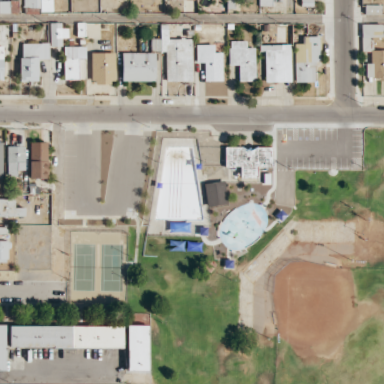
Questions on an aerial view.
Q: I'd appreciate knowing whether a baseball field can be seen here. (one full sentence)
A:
Yes, there is a baseball field in the image.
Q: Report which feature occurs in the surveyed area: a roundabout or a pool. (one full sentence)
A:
There is a pool in the scene.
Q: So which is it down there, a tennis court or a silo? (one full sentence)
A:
I can see a tennis court in this picture.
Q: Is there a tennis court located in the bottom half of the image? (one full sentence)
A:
Yes, a tennis court is visible in the bottom half of the image.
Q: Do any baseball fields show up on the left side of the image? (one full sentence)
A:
No, looking on the left side of the image, there is no baseball field.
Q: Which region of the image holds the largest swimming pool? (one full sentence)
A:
Look in the center portion of the view to spot the largest swimming pool.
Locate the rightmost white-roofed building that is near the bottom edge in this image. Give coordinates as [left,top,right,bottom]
[128,326,151,371]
